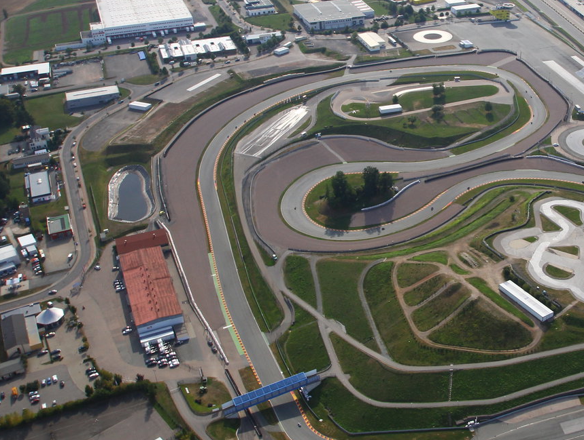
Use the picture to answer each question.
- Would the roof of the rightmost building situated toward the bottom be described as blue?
No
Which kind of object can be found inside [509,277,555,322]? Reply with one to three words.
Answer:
building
